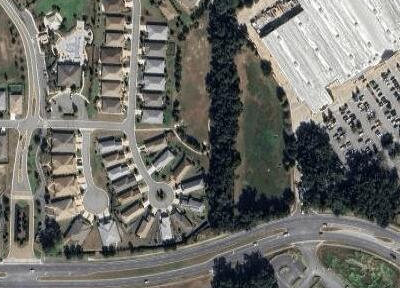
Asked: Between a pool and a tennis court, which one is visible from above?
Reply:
pool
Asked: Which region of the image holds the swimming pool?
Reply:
top left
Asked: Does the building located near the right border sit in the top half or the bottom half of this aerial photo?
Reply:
top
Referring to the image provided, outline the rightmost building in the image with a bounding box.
[262,0,400,113]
